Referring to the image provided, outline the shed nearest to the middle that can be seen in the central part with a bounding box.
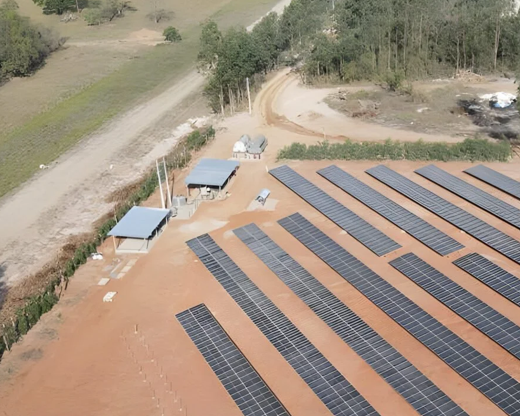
[185,158,240,197]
